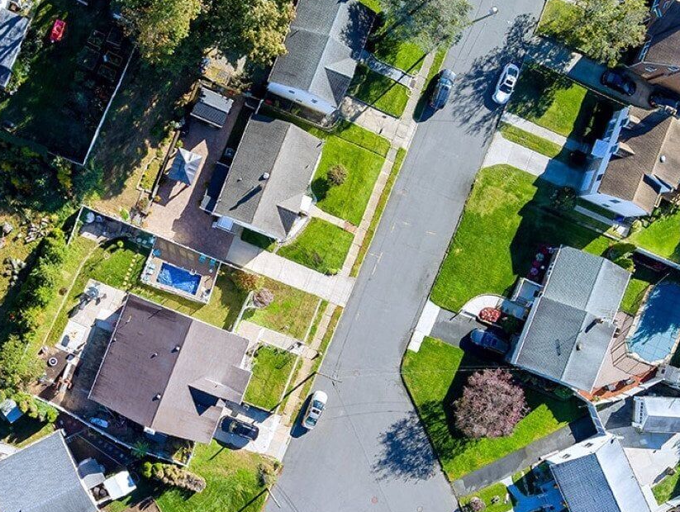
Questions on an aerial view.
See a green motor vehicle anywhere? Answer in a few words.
No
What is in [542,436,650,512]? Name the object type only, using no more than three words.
house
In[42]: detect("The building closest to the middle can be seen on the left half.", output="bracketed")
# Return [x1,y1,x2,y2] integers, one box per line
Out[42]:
[203,113,324,243]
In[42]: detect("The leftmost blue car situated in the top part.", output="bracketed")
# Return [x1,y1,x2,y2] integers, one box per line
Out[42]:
[427,65,458,113]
